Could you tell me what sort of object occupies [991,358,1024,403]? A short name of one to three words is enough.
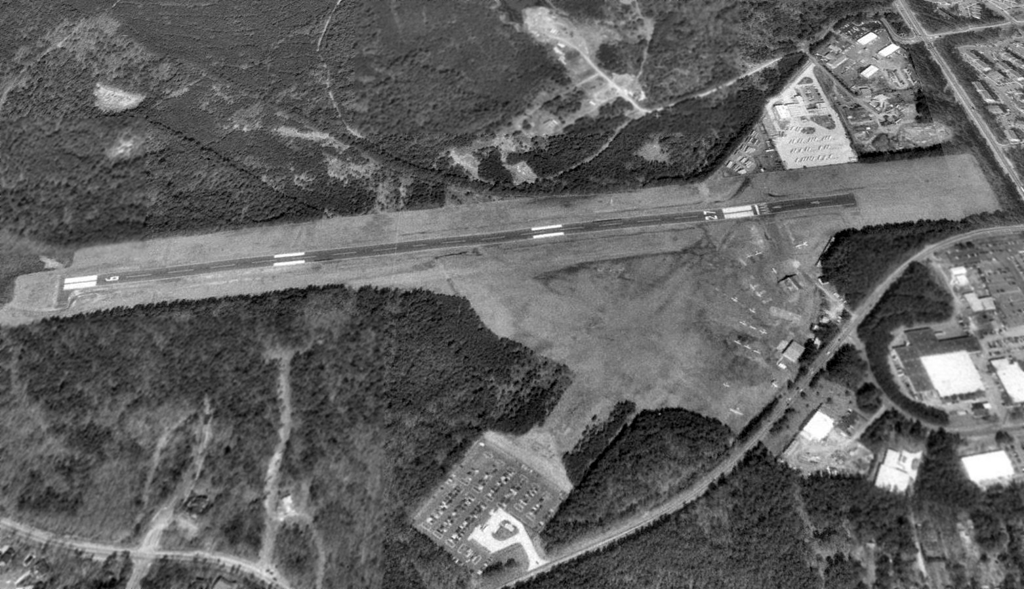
building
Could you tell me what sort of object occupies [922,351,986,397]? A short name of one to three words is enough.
building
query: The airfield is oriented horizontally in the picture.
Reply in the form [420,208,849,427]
[0,154,1002,490]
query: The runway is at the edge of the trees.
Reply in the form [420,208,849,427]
[59,193,854,305]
